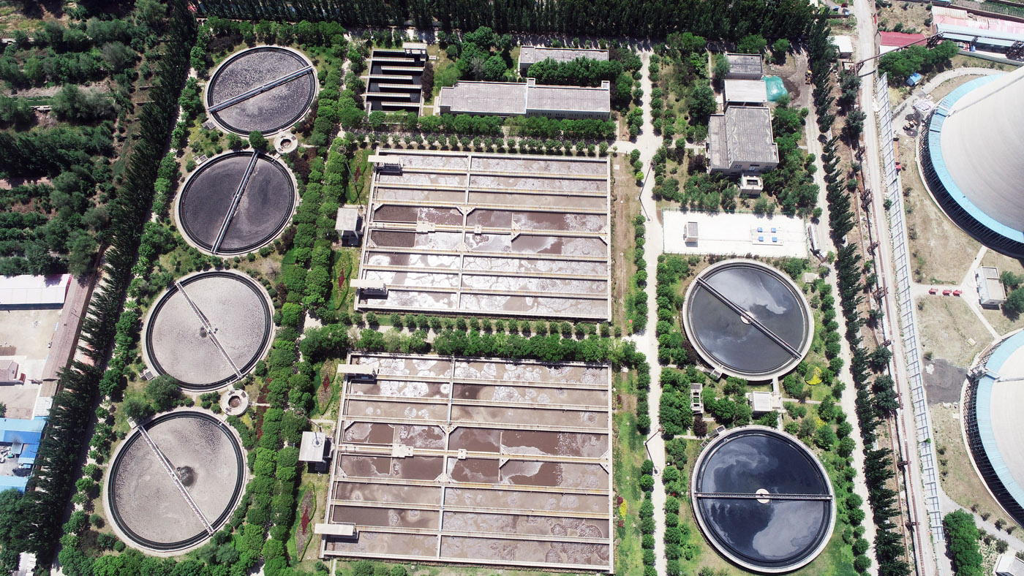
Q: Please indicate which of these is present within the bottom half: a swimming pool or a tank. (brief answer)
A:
tank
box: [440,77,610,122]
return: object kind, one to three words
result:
building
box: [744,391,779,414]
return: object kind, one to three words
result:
building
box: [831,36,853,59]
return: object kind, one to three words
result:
shed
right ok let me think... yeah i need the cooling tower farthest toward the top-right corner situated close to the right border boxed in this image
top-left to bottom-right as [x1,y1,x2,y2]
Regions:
[918,66,1024,258]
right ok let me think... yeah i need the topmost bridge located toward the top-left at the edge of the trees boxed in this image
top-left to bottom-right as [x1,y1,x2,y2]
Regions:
[207,65,314,113]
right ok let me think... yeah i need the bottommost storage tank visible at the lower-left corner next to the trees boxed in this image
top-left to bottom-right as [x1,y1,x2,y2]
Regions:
[101,405,251,557]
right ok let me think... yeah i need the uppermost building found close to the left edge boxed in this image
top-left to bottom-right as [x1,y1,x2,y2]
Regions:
[0,274,77,309]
